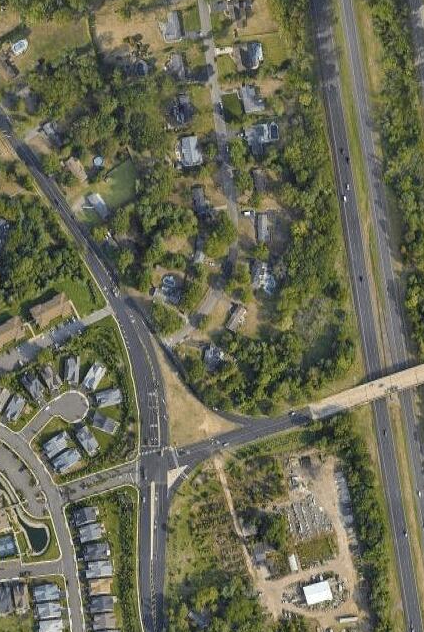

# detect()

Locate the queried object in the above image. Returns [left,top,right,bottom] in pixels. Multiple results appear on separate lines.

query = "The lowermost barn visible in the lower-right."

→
[303,580,333,605]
